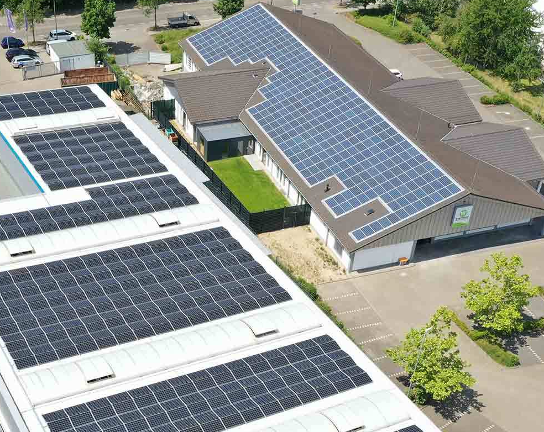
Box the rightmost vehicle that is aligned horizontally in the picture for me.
[169,13,199,28]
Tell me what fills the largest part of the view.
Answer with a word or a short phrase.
buildings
